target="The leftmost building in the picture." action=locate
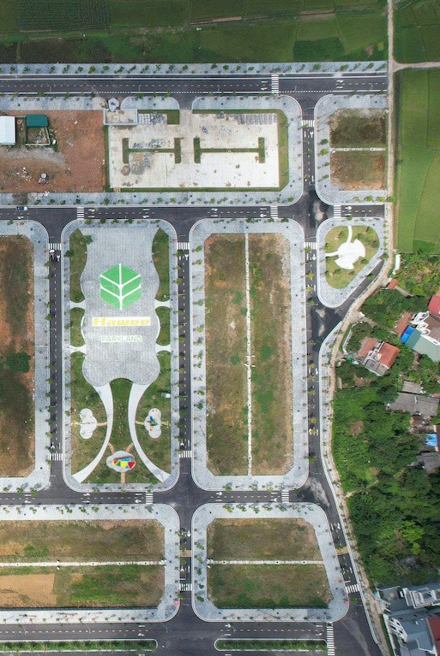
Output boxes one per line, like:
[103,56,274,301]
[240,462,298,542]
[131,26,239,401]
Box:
[0,116,16,145]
